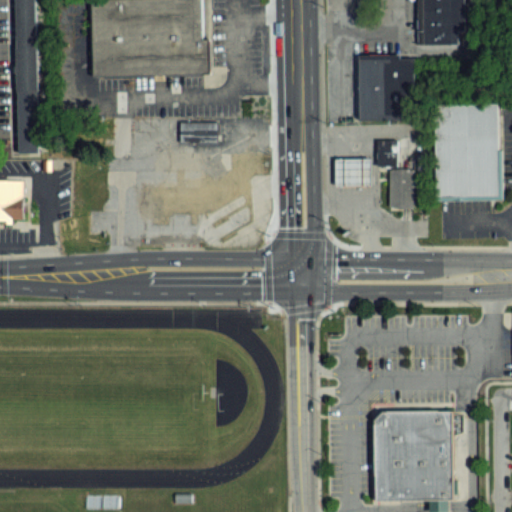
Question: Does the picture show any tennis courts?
No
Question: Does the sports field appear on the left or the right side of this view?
left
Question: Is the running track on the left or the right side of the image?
left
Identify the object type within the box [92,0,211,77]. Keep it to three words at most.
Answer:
building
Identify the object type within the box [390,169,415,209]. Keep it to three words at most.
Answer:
building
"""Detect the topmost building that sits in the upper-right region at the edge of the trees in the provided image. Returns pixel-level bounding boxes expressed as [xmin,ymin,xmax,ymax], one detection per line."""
[418,0,462,45]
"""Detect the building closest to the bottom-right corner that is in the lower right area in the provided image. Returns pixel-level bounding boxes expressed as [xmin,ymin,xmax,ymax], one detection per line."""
[376,412,455,502]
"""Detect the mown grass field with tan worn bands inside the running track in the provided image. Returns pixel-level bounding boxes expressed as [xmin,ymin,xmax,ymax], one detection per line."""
[0,328,264,470]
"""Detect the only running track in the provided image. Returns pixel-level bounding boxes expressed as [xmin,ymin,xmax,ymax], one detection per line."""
[0,310,282,488]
